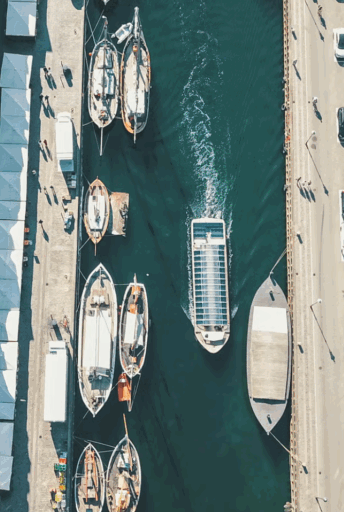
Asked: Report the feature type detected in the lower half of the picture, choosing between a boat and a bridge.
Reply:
boat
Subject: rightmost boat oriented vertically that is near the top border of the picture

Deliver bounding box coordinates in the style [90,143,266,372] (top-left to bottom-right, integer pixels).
[120,3,151,144]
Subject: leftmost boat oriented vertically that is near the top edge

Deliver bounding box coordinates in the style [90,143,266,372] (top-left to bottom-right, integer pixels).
[87,22,119,151]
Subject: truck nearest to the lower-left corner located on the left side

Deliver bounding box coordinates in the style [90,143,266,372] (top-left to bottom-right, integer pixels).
[44,339,69,426]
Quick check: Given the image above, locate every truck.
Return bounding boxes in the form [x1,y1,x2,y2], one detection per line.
[44,339,69,426]
[53,108,74,173]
